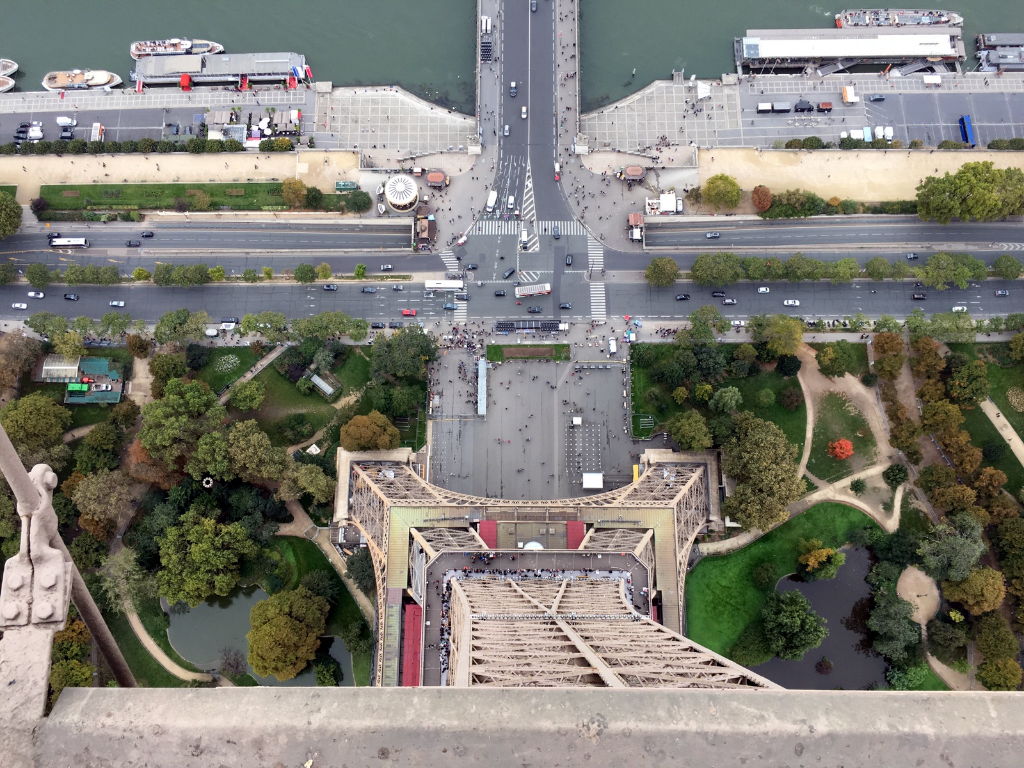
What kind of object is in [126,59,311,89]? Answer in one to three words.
pier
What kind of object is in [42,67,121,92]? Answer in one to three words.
boat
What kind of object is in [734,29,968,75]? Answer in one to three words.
pier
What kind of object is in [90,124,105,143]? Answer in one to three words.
vehicle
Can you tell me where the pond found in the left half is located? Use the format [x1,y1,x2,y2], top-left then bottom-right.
[159,579,363,687]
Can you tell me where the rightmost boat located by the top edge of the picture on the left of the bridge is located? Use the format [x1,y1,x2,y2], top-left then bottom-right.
[128,36,226,59]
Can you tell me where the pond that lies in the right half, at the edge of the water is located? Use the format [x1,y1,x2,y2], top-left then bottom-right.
[754,546,894,689]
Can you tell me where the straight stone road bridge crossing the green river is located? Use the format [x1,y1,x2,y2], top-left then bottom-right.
[476,0,580,154]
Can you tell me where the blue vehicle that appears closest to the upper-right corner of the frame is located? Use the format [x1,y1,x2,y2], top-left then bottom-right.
[958,112,977,145]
